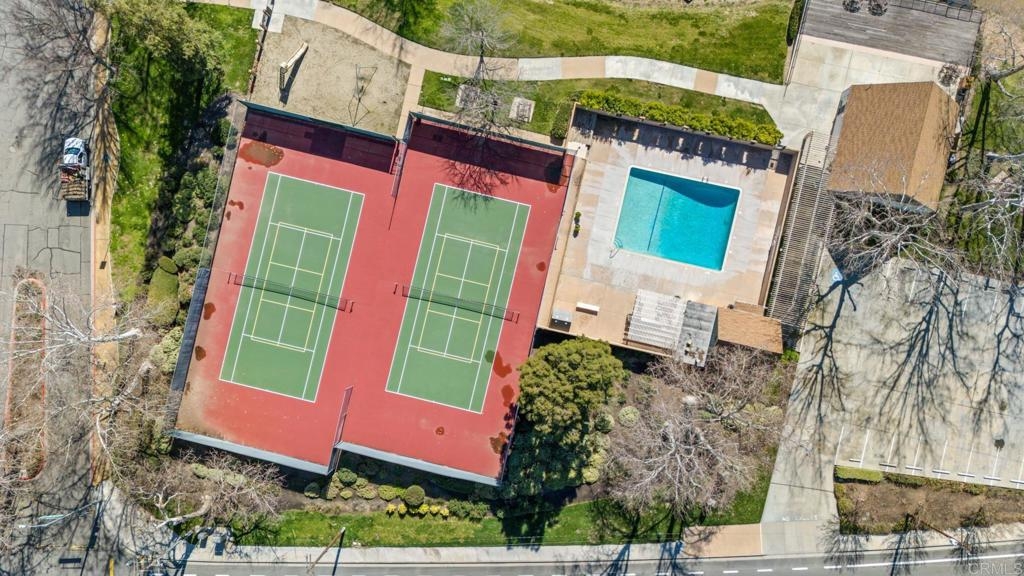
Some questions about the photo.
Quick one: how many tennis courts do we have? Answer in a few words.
two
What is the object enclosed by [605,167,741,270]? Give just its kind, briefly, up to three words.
swimming pool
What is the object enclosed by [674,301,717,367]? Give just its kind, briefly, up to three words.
building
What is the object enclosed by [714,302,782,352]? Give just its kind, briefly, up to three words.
shed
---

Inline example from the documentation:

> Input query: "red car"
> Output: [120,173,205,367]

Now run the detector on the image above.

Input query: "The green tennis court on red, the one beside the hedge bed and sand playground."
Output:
[176,108,407,467]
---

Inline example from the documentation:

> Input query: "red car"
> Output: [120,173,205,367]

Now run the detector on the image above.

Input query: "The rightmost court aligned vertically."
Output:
[336,119,569,480]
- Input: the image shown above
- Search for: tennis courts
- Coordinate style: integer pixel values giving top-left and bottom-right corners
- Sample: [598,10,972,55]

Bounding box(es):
[336,119,569,480]
[176,108,407,467]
